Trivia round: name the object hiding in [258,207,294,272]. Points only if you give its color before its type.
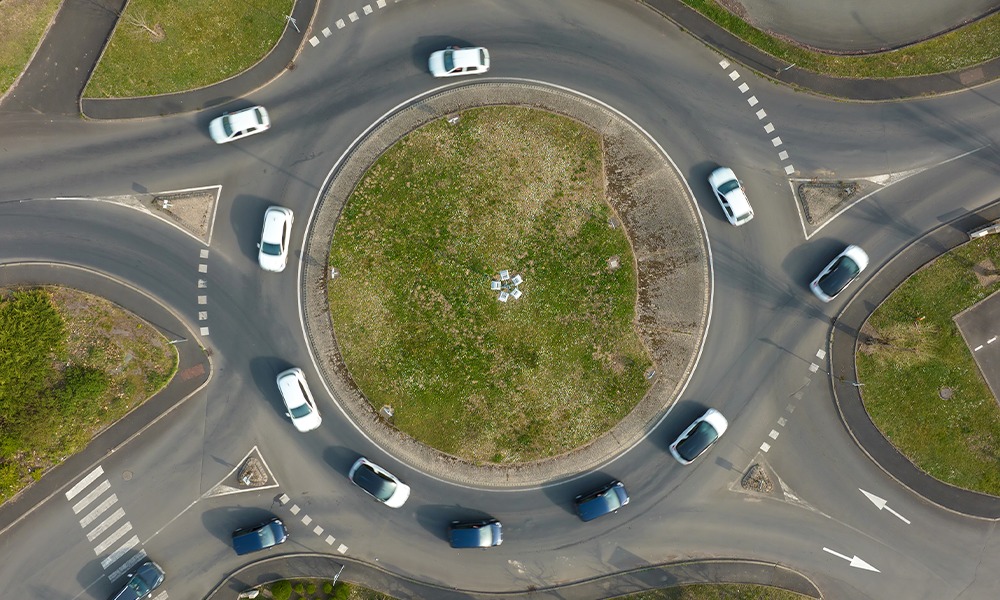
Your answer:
white car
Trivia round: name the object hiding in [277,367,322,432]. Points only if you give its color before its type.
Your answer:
white car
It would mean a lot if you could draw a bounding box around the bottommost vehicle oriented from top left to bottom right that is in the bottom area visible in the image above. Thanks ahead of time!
[349,457,410,506]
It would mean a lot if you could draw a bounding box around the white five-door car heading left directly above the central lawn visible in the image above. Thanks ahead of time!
[429,46,491,78]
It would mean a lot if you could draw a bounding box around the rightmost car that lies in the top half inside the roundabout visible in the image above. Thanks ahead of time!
[707,165,755,228]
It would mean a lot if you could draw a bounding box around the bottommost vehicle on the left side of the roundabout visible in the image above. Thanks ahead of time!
[110,558,169,600]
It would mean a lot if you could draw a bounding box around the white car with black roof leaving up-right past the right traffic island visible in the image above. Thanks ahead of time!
[809,246,866,302]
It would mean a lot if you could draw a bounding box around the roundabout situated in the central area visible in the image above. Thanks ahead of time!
[208,0,803,581]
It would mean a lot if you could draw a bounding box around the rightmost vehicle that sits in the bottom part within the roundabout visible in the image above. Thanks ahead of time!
[669,409,727,465]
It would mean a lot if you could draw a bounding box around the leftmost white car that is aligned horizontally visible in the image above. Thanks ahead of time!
[210,107,273,145]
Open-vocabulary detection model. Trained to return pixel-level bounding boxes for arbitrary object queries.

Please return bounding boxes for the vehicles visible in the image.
[707,165,755,228]
[110,558,169,600]
[429,46,491,78]
[669,409,727,465]
[210,107,273,145]
[809,246,866,302]
[277,367,322,432]
[349,457,410,506]
[230,518,290,556]
[572,481,631,521]
[258,207,294,272]
[447,518,504,550]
